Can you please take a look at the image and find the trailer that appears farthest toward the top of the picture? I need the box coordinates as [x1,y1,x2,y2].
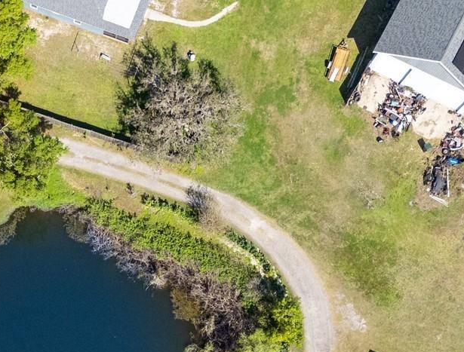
[323,34,352,80]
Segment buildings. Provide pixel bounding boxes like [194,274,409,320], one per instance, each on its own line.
[359,0,464,120]
[22,0,153,55]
